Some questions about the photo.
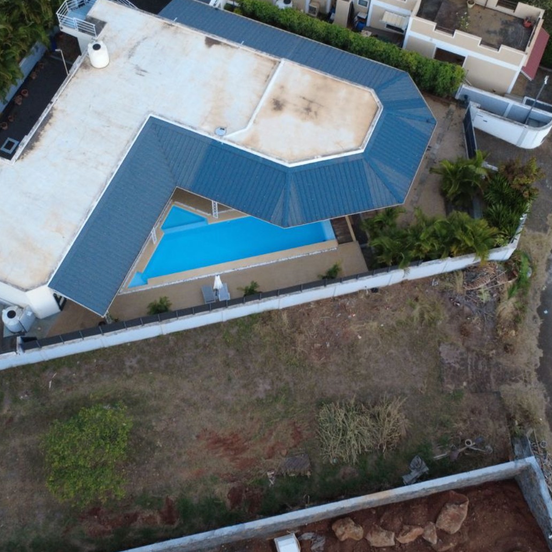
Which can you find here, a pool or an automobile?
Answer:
pool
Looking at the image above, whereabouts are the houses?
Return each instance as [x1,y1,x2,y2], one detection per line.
[0,0,436,324]
[274,0,550,93]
